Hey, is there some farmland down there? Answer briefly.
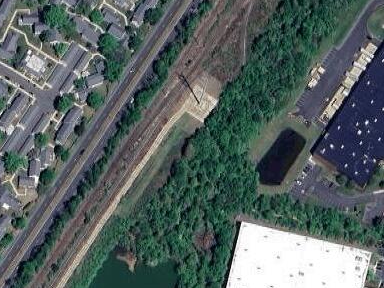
No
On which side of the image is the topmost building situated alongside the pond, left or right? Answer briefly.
right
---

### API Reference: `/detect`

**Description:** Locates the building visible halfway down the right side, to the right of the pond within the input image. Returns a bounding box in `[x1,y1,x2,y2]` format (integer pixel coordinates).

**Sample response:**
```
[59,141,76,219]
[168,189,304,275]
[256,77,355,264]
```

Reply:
[313,43,384,192]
